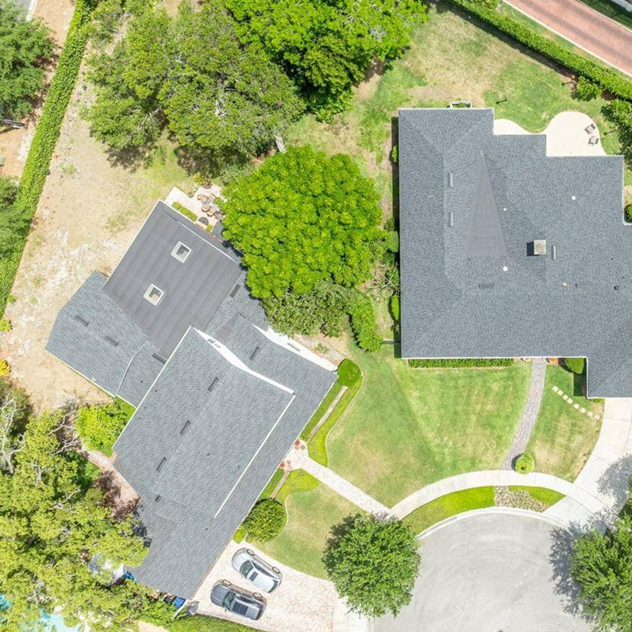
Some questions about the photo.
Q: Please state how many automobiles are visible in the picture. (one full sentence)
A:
My tally gives 2 automobiles in this view.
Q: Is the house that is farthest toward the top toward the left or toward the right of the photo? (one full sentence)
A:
It is on the right.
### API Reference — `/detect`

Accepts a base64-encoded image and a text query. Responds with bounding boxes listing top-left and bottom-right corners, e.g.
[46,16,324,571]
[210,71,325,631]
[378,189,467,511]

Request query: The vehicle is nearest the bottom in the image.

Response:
[207,577,270,625]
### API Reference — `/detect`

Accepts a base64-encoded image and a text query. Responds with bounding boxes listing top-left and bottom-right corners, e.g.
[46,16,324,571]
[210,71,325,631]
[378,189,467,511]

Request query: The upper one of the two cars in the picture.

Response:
[228,548,286,596]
